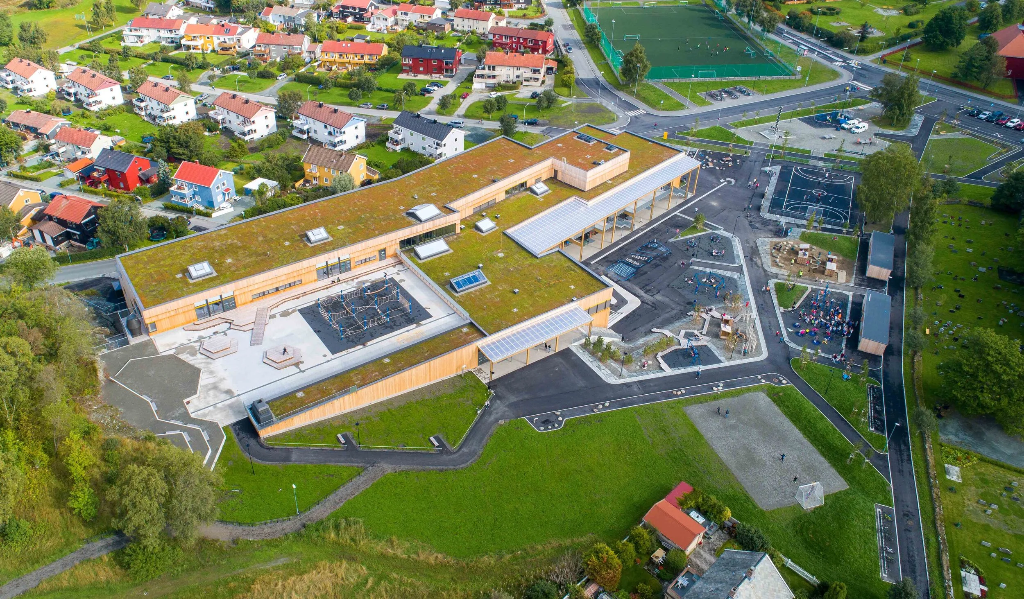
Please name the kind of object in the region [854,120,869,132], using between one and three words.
vehicle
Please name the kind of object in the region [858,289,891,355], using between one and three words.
shed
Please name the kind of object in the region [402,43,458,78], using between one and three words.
house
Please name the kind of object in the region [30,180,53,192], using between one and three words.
vehicle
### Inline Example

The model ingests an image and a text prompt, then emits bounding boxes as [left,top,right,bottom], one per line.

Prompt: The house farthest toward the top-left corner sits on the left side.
[2,57,60,99]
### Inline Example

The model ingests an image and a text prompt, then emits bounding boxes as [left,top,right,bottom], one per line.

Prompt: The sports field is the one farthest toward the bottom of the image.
[684,391,849,510]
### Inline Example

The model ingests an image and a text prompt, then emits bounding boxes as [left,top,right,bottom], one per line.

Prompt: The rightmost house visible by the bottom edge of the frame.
[683,549,798,599]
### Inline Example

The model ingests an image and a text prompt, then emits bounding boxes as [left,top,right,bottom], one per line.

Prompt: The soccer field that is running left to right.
[592,5,791,79]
